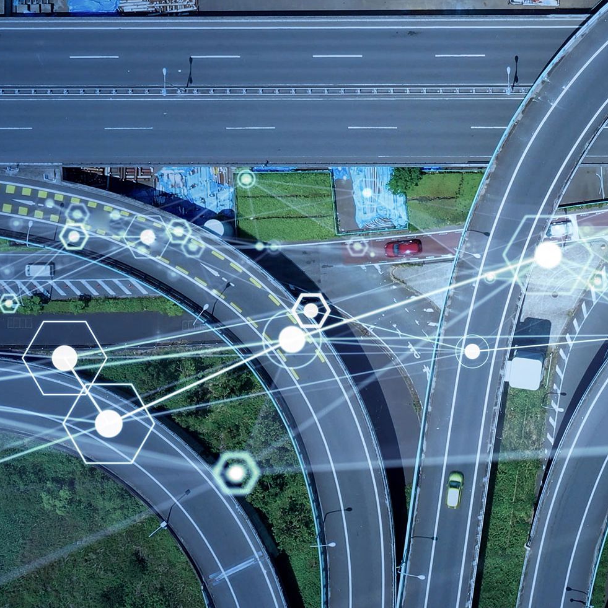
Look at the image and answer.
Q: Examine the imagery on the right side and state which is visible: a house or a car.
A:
car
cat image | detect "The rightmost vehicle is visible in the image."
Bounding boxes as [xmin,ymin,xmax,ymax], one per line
[543,221,575,237]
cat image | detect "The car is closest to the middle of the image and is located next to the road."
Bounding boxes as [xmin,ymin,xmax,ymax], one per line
[385,239,423,257]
